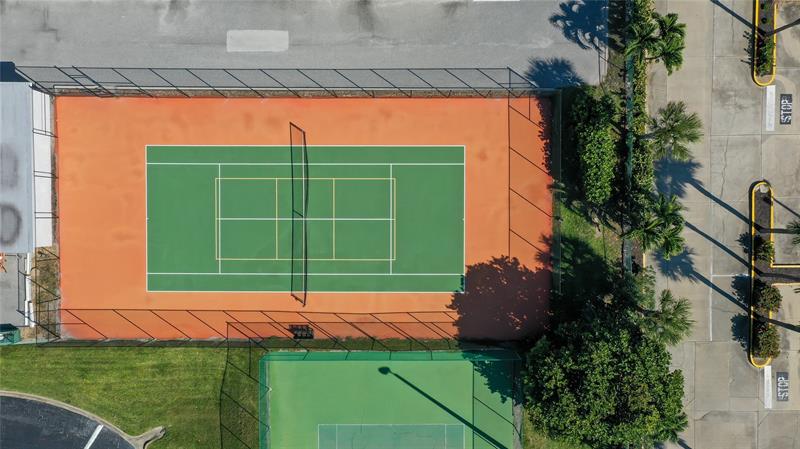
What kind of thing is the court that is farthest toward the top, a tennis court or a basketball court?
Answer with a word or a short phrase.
tennis court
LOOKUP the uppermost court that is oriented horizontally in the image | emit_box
[56,96,553,339]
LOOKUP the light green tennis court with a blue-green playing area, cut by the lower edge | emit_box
[269,351,514,449]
